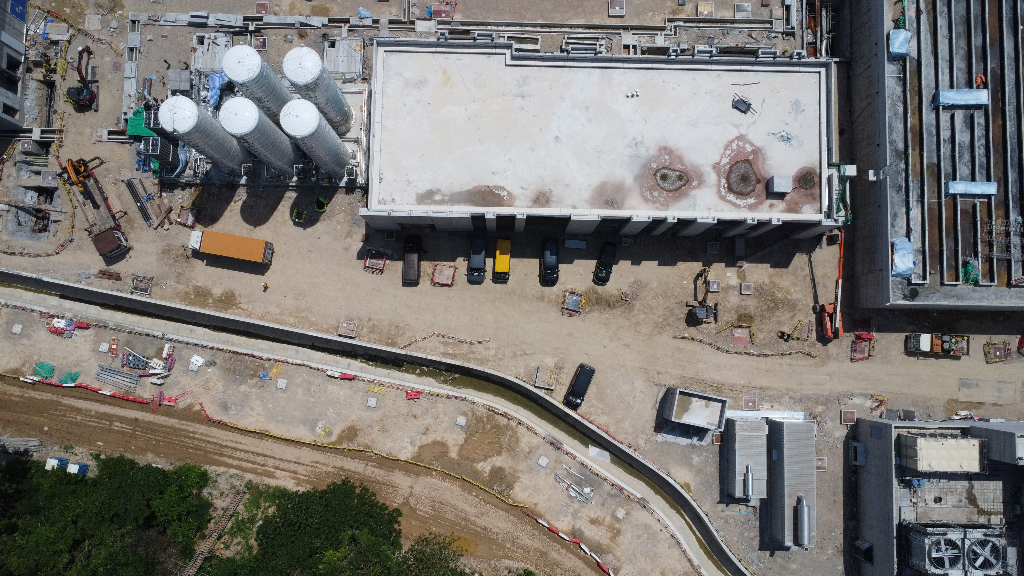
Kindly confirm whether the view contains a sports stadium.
No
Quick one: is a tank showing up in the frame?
Yes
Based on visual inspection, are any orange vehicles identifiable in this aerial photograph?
Yes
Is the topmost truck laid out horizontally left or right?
left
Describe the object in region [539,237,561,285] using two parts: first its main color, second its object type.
black vehicle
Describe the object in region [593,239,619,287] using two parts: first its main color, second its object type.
black vehicle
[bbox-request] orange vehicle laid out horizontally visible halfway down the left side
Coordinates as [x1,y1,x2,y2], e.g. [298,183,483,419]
[182,226,283,266]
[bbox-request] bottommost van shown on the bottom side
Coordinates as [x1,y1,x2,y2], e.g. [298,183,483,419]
[565,361,598,411]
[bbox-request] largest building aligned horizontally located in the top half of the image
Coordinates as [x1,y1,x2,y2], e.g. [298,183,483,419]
[359,26,868,238]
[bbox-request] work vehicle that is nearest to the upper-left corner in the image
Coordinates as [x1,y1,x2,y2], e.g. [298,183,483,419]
[52,40,95,108]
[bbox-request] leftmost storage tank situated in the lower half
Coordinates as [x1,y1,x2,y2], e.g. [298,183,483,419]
[665,387,729,431]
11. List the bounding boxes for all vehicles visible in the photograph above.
[593,239,619,287]
[52,40,95,108]
[399,237,426,284]
[182,226,283,266]
[905,331,973,355]
[565,361,598,411]
[491,237,512,281]
[465,237,487,284]
[51,161,127,258]
[691,267,723,325]
[539,237,561,285]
